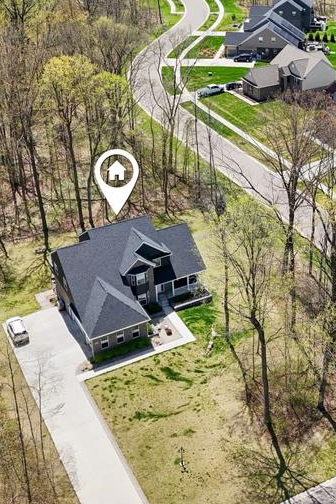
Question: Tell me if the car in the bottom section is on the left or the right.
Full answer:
The car in the bottom section sits on the left side.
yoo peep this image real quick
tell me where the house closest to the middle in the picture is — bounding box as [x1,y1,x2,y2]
[43,211,205,356]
